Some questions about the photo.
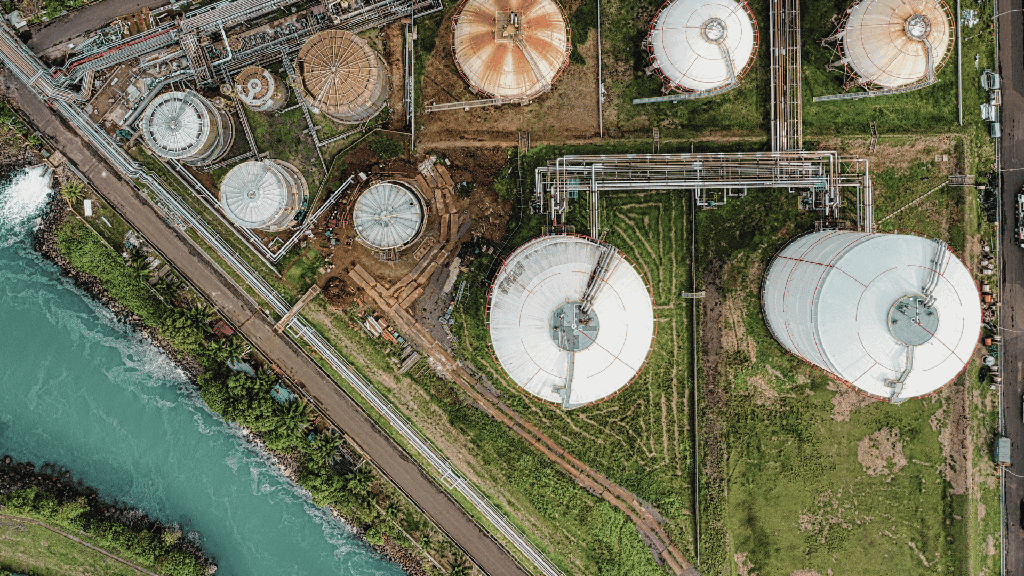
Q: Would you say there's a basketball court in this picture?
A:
No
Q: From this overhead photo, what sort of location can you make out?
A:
industrial area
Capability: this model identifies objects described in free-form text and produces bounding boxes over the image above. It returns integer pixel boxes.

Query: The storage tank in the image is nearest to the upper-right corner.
[814,0,958,103]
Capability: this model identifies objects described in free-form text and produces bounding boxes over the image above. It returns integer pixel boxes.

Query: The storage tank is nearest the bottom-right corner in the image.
[761,227,981,403]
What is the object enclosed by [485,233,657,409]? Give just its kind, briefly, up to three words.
storage tank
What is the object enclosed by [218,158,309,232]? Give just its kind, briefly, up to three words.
storage tank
